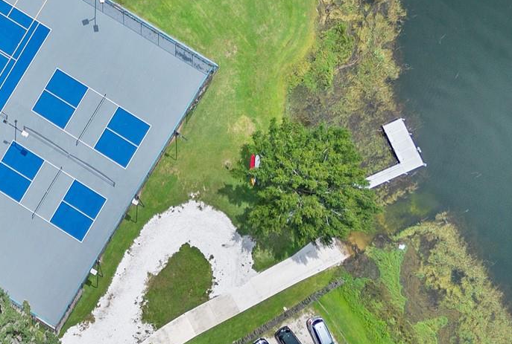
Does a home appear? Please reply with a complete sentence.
No, I can't see a single home in this photo.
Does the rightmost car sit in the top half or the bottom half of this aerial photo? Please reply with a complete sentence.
The rightmost car sits in the bottom half of the picture.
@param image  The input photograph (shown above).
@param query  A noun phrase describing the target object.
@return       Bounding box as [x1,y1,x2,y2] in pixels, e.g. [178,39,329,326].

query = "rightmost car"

[307,316,330,344]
